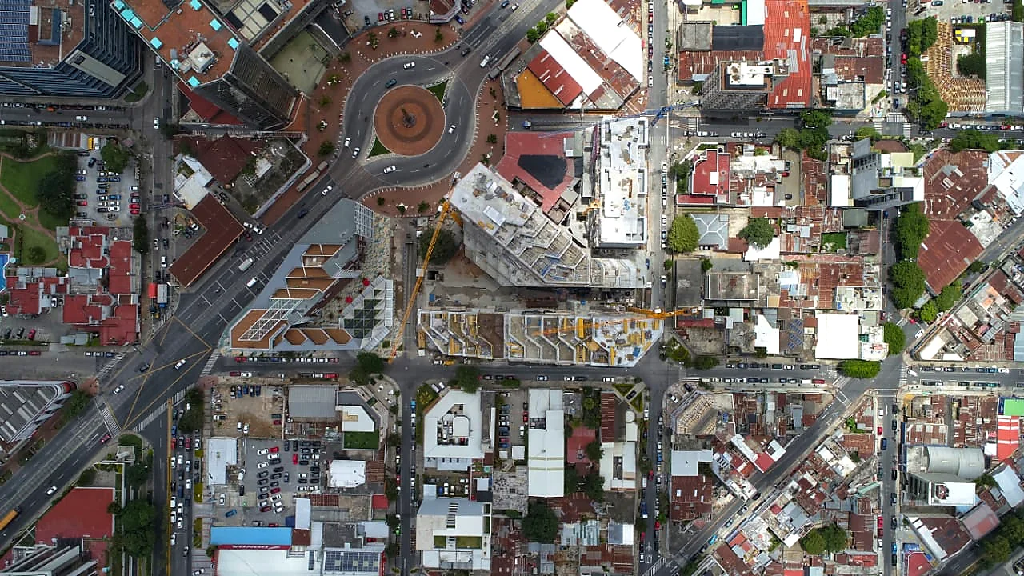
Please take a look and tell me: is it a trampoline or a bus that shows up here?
bus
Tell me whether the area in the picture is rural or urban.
urban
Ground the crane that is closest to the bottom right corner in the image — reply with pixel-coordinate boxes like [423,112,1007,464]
[534,302,705,336]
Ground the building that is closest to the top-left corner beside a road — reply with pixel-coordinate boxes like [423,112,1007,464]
[0,0,141,97]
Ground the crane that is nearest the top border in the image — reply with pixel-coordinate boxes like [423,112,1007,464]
[538,98,701,139]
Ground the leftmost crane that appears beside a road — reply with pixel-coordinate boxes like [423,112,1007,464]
[388,168,466,362]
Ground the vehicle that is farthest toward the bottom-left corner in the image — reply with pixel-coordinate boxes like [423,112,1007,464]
[0,507,23,530]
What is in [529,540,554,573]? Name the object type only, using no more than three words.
shed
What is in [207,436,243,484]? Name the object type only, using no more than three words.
building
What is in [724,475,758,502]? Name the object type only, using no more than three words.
house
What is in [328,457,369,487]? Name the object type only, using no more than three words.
building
